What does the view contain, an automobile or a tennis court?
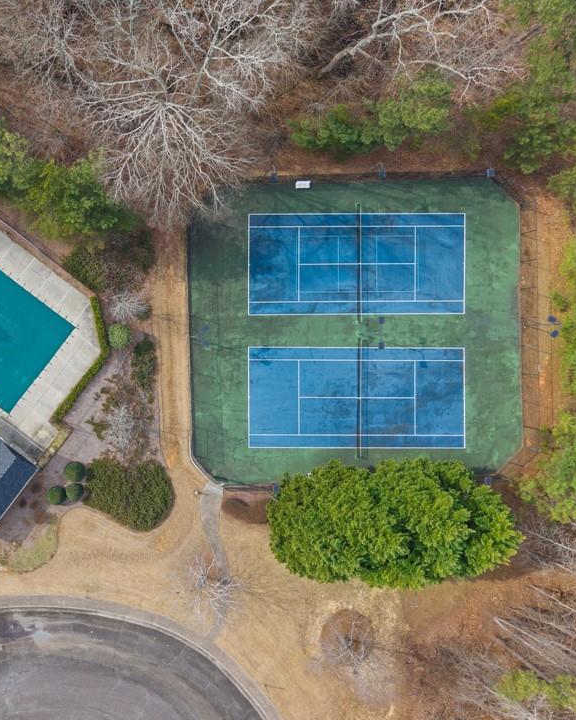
tennis court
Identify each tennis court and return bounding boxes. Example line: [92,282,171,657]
[248,347,466,449]
[248,213,466,315]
